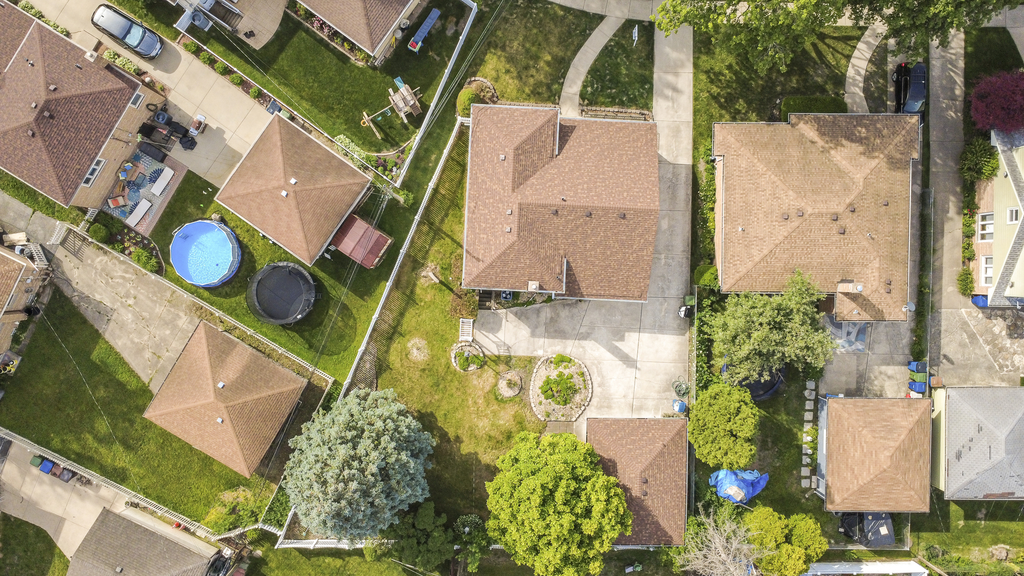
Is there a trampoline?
Yes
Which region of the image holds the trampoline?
left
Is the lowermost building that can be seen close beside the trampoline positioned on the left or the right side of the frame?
left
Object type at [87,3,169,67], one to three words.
car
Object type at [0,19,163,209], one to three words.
house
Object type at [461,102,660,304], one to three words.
house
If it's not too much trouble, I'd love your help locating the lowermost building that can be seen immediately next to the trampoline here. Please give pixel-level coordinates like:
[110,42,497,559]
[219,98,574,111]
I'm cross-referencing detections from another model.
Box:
[141,318,312,480]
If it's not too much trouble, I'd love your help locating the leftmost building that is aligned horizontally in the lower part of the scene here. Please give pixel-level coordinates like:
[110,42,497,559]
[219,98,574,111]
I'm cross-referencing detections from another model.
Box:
[53,499,223,576]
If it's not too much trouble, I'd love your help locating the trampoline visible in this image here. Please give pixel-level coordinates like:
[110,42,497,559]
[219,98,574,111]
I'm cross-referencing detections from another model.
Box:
[242,259,317,326]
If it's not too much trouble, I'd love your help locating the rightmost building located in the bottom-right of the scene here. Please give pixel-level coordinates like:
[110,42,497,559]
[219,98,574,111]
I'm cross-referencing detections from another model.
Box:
[927,386,1024,502]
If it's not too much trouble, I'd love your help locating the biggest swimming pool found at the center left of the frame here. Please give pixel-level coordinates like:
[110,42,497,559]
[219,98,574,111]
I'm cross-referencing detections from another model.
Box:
[171,219,243,287]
